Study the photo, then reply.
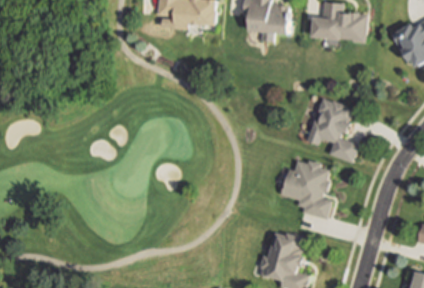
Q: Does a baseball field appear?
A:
No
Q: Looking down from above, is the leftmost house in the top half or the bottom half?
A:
top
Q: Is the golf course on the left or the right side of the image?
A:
left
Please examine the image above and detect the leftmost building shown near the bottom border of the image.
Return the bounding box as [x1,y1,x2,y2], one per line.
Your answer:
[260,231,311,288]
